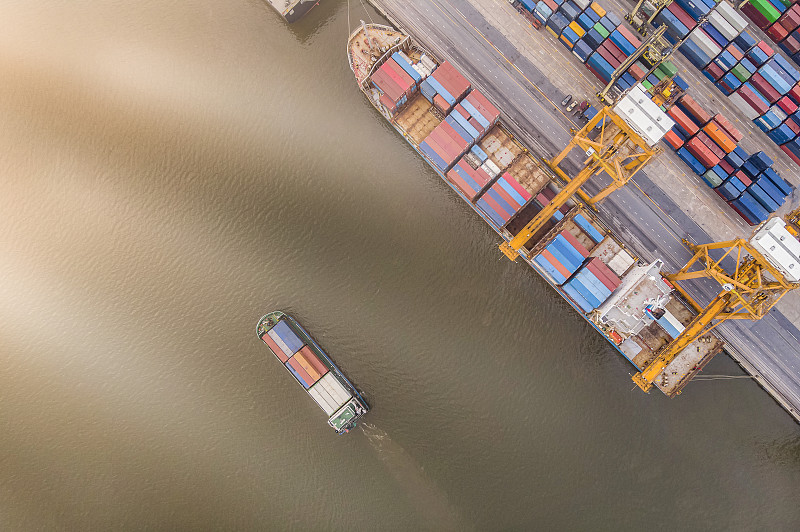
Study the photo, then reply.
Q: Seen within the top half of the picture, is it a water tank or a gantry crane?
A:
gantry crane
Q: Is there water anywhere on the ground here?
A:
Yes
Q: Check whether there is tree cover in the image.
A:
No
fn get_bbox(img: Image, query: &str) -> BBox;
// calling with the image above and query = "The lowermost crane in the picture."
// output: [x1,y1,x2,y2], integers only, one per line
[627,205,800,399]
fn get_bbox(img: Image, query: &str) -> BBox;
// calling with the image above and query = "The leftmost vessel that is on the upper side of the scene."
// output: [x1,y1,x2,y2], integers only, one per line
[264,0,321,28]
